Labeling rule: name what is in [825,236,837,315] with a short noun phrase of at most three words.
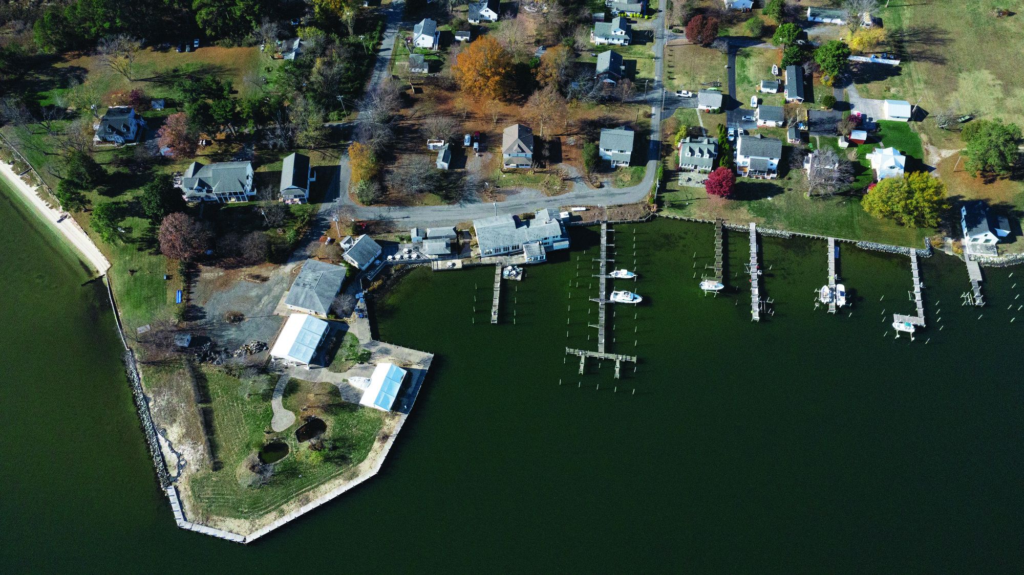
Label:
pier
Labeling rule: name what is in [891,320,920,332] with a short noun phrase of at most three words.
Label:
boat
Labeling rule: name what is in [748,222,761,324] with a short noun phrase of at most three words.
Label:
pier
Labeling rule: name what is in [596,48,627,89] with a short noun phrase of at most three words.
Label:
house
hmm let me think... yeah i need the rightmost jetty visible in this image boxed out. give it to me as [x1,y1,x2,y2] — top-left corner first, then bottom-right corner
[961,244,986,309]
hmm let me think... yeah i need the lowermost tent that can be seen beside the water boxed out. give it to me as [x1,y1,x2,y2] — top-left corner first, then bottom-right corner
[359,364,411,419]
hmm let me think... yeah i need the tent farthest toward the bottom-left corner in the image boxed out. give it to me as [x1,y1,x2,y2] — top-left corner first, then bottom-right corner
[271,314,335,372]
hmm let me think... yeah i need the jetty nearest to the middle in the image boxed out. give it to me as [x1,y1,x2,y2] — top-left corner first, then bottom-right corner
[490,265,503,325]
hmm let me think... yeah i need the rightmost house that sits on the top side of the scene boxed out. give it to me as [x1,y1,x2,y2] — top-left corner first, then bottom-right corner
[953,198,1016,247]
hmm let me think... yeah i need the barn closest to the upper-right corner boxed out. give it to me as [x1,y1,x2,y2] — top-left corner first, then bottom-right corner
[880,99,911,126]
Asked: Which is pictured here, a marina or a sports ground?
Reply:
marina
